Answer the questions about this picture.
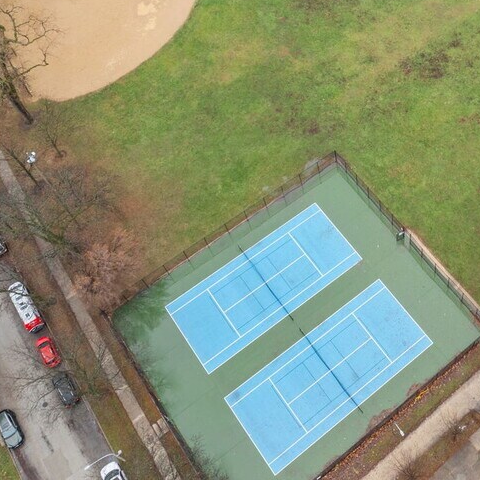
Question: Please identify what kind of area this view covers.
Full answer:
The area seen from above is a sports ground.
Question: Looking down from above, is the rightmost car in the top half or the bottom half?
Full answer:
It is in the bottom half that the rightmost car appears.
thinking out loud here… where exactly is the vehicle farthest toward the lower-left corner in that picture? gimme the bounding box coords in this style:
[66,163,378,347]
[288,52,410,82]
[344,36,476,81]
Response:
[0,407,26,451]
